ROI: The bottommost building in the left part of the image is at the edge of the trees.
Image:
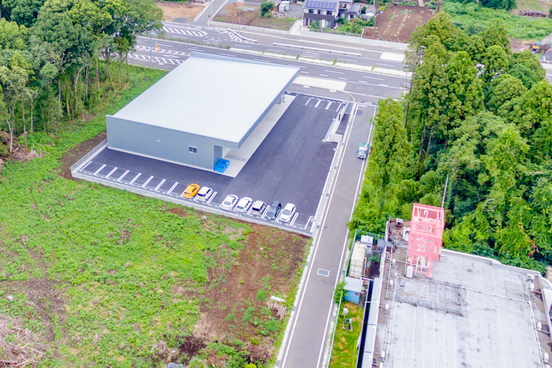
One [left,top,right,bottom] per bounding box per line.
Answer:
[105,50,298,172]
